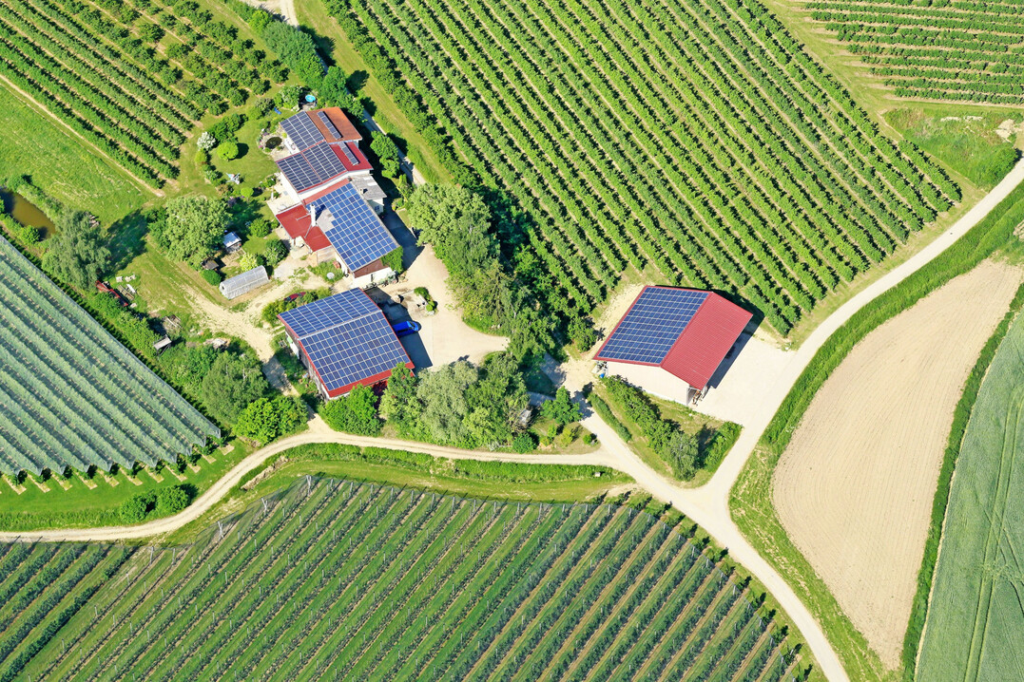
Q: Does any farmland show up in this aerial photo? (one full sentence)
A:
Yes, farmland shows up in the scene.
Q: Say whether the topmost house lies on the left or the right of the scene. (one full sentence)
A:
The topmost house is on the left side of the image.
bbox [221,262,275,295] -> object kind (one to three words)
greenhouse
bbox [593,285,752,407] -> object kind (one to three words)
barn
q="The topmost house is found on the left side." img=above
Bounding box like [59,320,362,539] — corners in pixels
[278,105,359,152]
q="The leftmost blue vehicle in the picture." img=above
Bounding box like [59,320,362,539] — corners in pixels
[391,321,420,338]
